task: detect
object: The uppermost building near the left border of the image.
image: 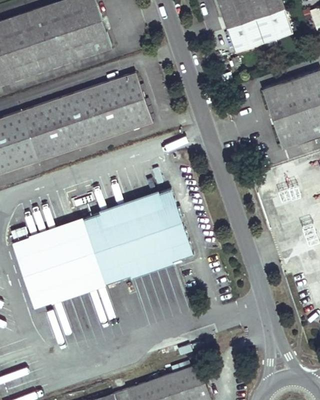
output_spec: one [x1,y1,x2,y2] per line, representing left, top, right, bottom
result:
[0,0,111,91]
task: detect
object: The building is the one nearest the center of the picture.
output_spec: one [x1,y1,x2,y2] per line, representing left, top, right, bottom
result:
[84,189,191,286]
